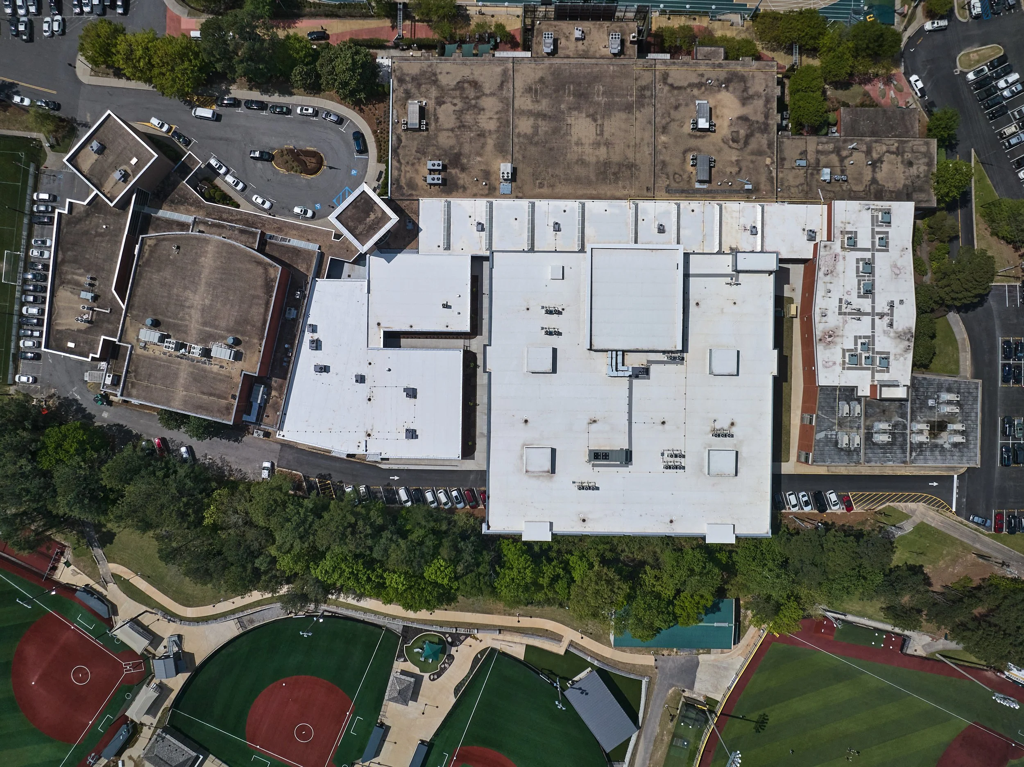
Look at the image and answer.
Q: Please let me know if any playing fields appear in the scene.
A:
Yes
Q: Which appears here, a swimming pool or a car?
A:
car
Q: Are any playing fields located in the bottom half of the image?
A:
Yes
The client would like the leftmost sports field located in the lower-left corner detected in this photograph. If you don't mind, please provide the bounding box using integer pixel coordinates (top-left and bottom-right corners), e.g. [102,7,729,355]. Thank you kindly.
[0,566,153,767]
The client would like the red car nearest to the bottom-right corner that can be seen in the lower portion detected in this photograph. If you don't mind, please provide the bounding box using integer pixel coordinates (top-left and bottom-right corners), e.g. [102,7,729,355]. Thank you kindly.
[993,513,1005,534]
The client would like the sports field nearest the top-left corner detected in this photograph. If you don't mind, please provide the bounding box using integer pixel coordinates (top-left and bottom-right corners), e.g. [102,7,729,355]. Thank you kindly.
[0,136,41,384]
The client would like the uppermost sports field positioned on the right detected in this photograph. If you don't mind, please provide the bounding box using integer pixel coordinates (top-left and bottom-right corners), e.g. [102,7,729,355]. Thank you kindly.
[834,623,887,648]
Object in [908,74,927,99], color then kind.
white vehicle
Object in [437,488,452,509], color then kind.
white car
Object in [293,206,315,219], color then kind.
white vehicle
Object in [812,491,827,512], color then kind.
black car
